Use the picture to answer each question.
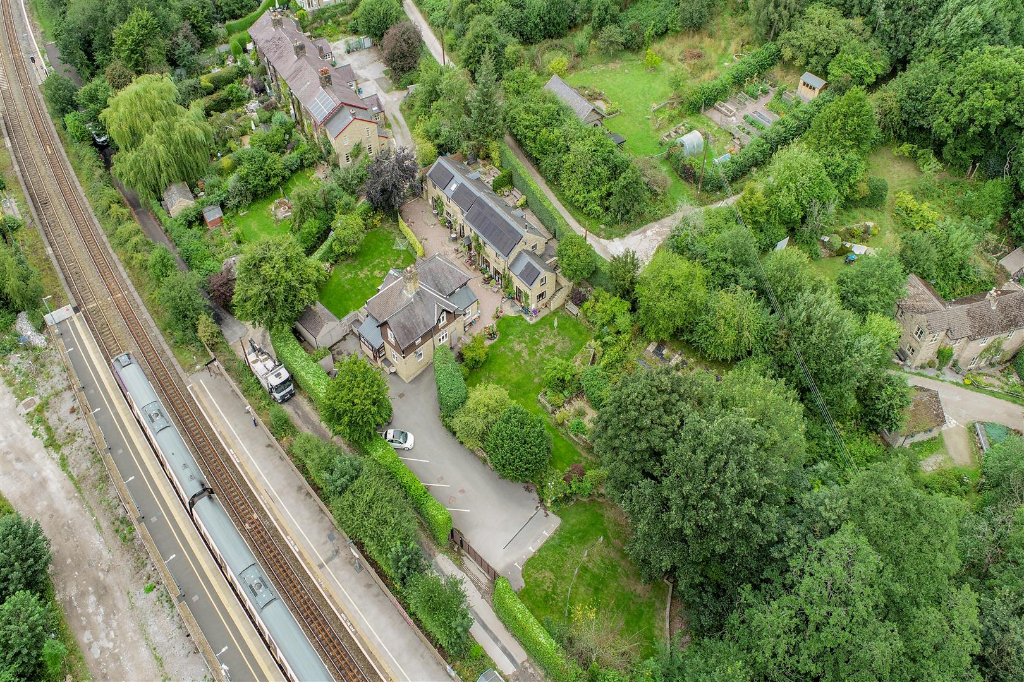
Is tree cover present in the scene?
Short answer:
Yes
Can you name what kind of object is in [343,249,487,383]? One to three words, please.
house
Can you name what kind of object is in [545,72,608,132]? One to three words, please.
barn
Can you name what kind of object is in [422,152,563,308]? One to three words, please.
house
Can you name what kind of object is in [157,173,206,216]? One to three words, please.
building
